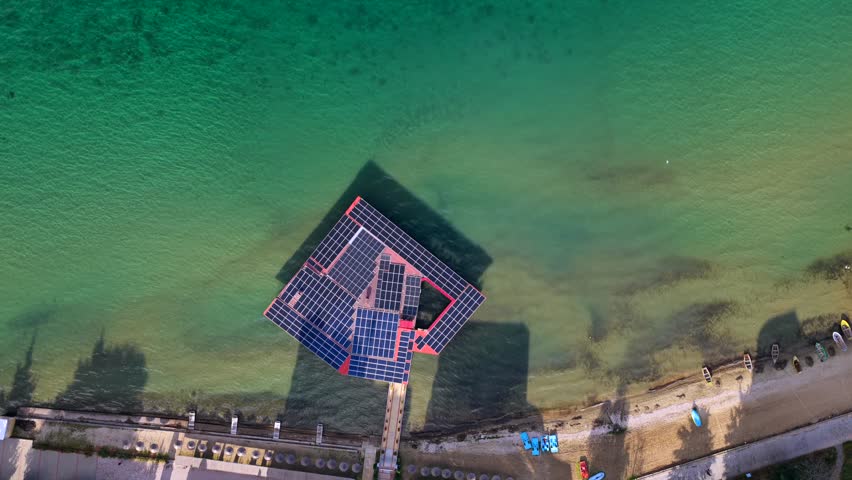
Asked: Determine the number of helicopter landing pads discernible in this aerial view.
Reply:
0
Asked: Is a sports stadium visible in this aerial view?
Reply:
No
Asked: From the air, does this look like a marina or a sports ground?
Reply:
marina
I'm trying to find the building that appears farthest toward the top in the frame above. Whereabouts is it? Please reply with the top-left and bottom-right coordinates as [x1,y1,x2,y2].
[264,196,486,384]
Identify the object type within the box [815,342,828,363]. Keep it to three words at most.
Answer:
boat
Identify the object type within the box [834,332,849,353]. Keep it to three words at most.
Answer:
boat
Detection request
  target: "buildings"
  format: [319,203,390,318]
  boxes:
[0,416,18,440]
[264,196,486,384]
